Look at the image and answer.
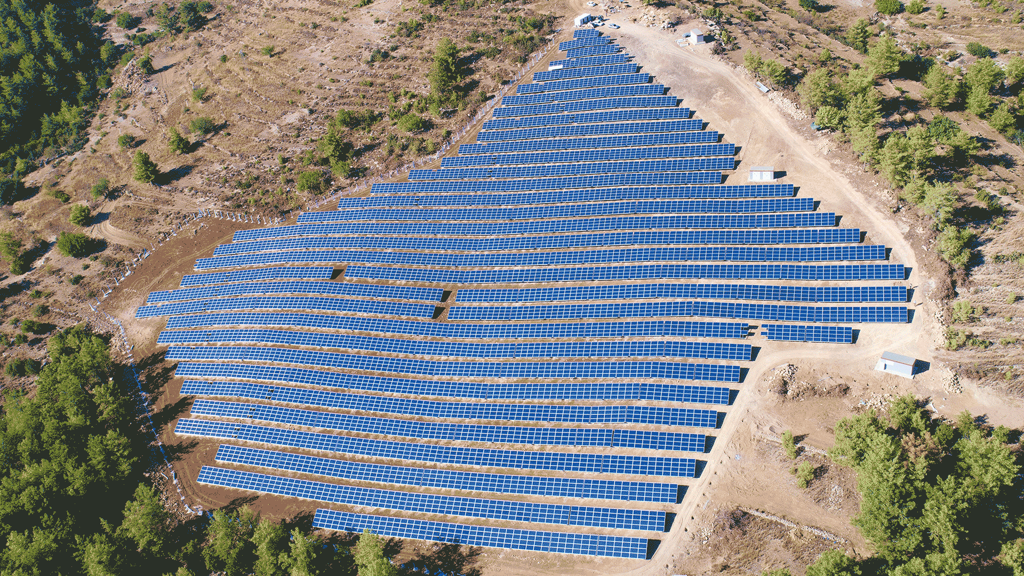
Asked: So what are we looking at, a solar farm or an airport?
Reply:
solar farm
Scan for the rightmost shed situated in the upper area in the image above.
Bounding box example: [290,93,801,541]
[747,165,777,182]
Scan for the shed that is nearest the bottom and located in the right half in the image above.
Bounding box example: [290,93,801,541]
[873,349,918,380]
